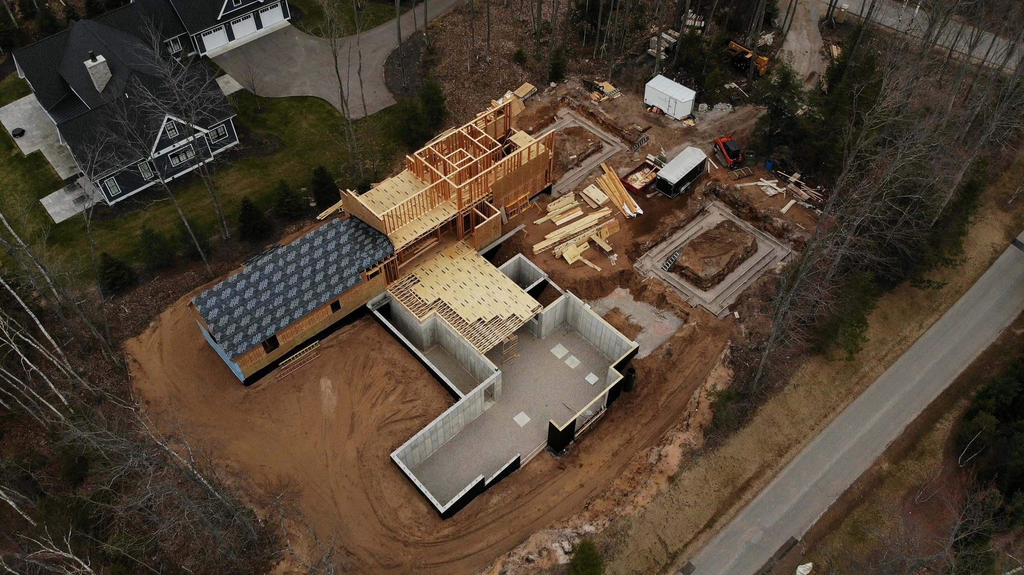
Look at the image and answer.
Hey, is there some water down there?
No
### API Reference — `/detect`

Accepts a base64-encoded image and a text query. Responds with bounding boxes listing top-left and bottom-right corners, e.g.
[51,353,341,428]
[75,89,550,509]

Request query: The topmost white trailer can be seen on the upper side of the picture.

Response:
[643,75,702,124]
